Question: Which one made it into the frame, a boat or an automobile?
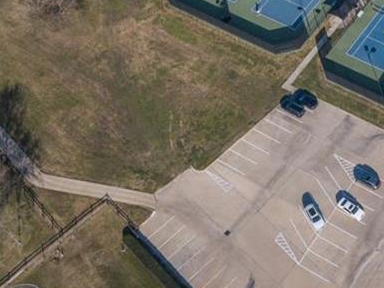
automobile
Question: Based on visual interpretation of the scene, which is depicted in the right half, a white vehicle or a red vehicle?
white vehicle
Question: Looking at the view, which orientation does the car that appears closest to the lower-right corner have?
diagonally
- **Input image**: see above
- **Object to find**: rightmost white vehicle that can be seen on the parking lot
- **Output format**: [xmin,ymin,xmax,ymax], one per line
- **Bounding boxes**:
[336,196,363,218]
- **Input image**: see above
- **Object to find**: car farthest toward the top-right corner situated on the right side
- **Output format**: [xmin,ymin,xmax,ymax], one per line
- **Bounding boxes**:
[293,87,318,107]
